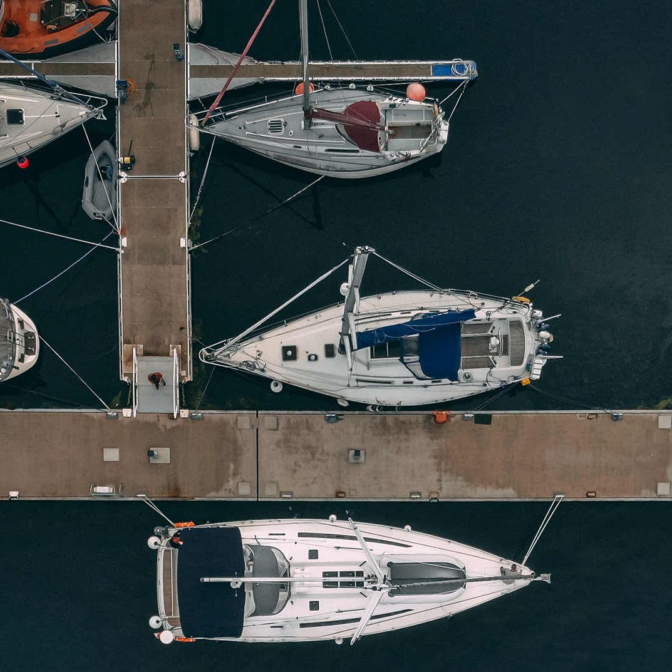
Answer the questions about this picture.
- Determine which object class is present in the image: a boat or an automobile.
boat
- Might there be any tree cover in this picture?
No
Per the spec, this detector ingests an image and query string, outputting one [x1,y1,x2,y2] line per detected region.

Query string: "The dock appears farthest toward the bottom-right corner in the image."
[257,410,672,502]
